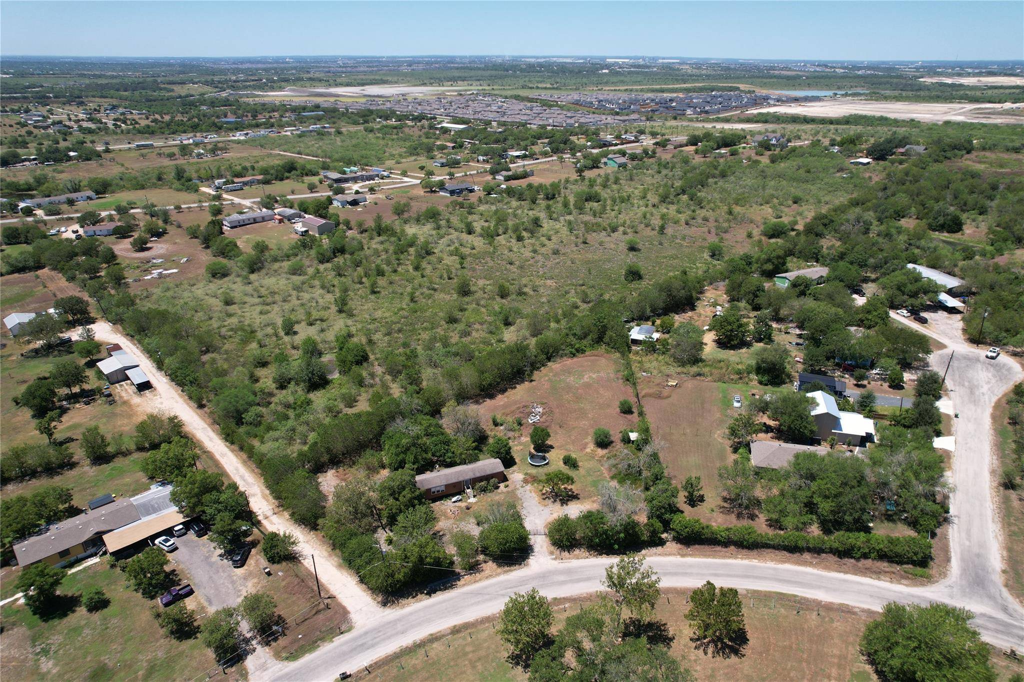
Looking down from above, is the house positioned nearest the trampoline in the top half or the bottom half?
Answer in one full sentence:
You can find the house positioned nearest the trampoline in the bottom half.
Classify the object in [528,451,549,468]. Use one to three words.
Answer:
trampoline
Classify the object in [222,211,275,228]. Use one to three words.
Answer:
house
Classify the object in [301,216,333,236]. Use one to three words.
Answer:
barn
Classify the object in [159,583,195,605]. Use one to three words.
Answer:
truck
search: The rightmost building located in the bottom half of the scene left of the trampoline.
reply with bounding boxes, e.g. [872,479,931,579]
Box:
[414,459,504,501]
